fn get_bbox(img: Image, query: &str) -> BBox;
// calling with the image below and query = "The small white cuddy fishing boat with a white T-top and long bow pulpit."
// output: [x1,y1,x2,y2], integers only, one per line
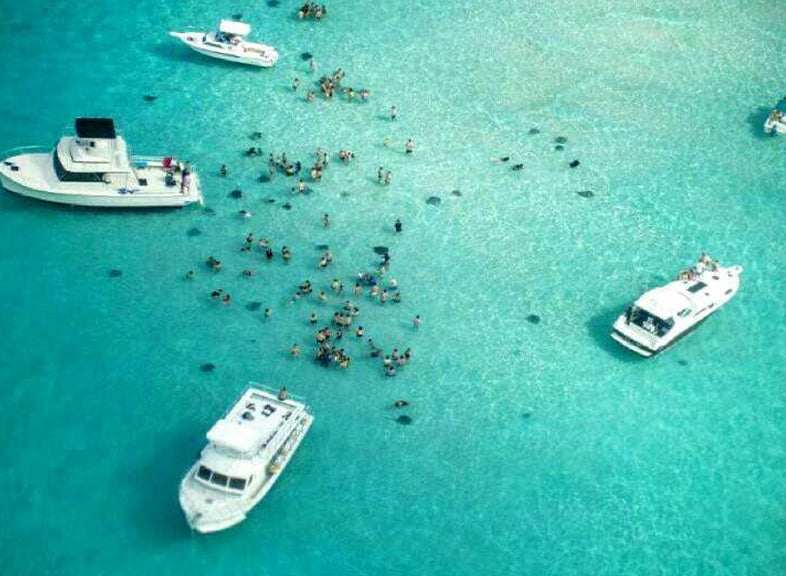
[166,22,280,71]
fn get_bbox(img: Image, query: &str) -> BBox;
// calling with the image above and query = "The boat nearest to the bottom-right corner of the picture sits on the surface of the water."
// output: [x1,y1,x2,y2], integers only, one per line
[610,253,748,363]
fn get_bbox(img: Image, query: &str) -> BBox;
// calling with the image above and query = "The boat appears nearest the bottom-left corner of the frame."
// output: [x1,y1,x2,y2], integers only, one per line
[183,378,316,538]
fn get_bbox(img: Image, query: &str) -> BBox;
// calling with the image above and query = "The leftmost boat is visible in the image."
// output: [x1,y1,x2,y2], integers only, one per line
[0,121,210,207]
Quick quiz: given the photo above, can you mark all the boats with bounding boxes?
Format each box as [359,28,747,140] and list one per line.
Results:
[764,90,786,141]
[0,121,210,207]
[610,253,748,363]
[183,378,316,538]
[166,22,280,71]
